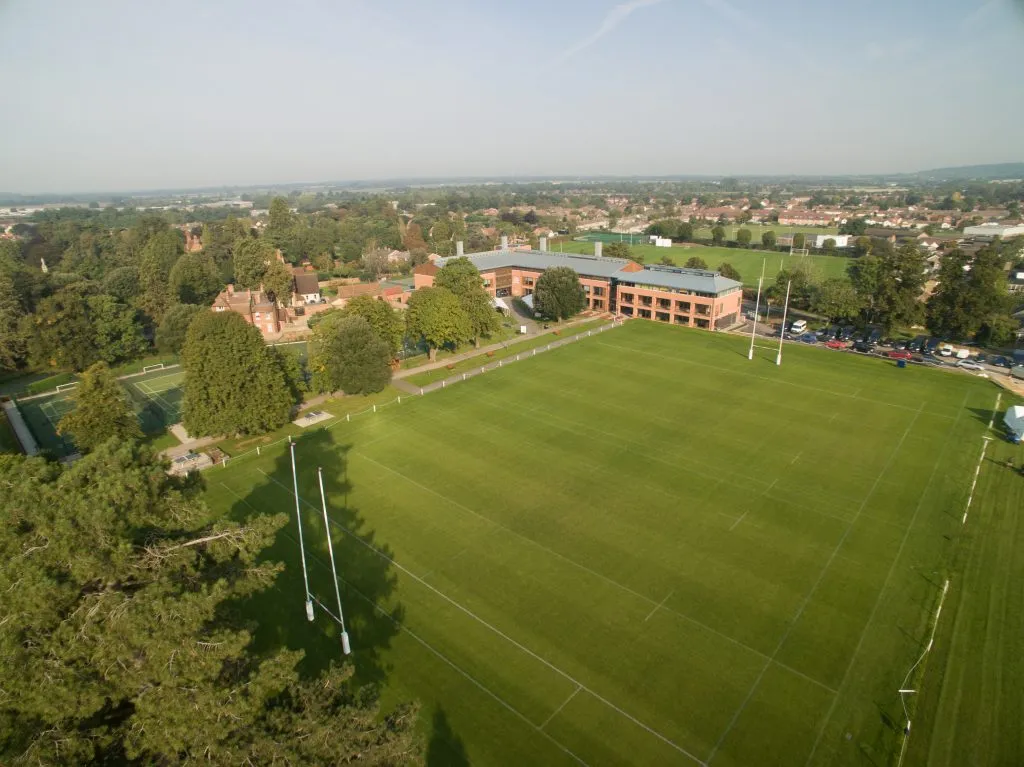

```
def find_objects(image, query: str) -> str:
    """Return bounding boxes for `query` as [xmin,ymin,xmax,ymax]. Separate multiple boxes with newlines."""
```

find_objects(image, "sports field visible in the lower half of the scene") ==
[183,319,998,767]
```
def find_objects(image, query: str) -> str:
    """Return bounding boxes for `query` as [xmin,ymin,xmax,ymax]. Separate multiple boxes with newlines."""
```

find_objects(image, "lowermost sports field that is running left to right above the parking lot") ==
[561,241,866,301]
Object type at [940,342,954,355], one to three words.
vehicle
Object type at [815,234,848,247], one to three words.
building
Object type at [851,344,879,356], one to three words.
vehicle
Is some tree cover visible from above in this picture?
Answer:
Yes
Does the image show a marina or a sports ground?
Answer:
sports ground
